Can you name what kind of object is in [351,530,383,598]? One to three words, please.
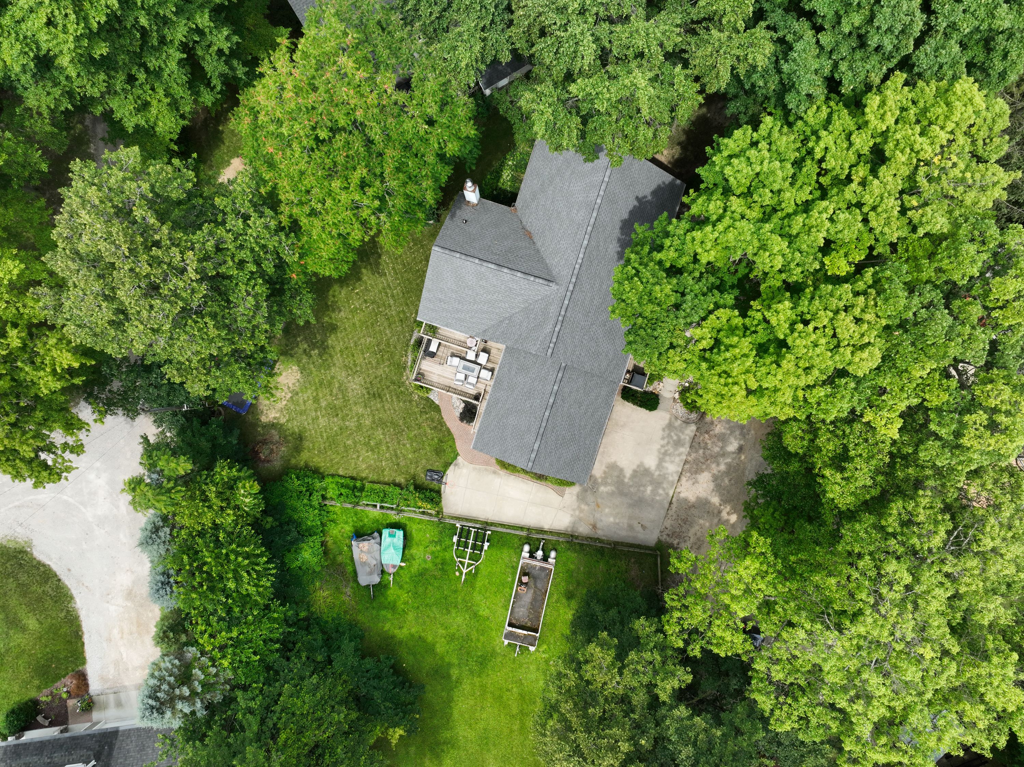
boat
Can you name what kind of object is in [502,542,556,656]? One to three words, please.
boat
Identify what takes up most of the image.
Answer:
trees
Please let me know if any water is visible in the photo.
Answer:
No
